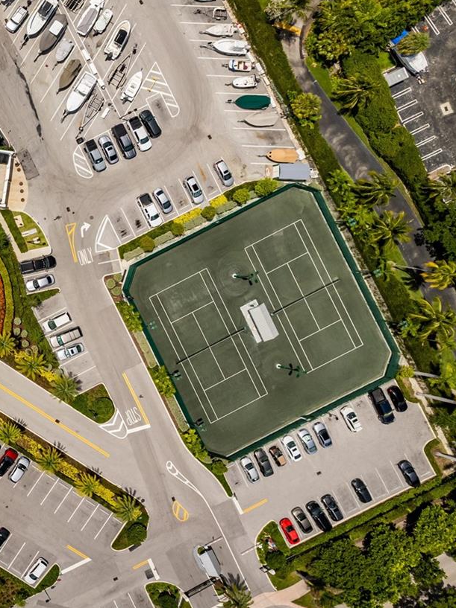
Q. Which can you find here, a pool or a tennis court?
tennis court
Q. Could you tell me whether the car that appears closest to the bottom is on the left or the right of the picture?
left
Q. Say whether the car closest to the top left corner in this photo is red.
No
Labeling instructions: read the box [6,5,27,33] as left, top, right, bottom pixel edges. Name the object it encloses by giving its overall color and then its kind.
white car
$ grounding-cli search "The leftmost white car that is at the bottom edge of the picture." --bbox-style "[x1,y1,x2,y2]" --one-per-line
[26,556,48,586]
